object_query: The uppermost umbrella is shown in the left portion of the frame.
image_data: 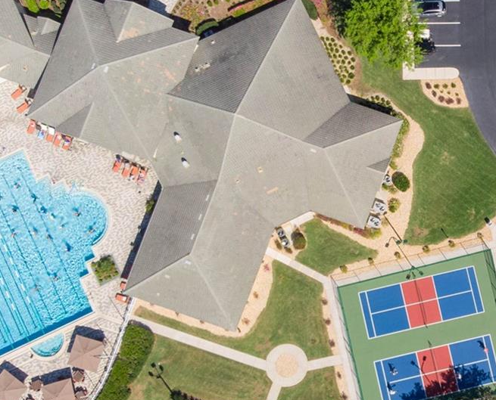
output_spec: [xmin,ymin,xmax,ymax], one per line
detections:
[67,335,104,372]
